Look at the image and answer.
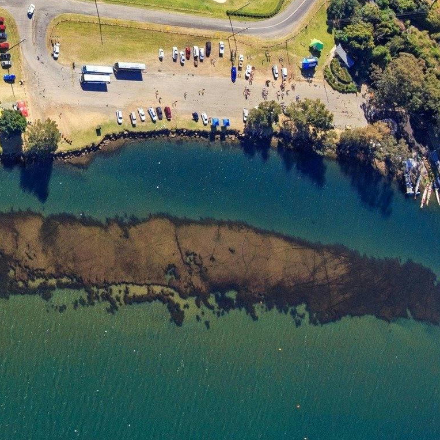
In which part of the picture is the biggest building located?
top right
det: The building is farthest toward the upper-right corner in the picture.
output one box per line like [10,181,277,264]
[331,44,356,69]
